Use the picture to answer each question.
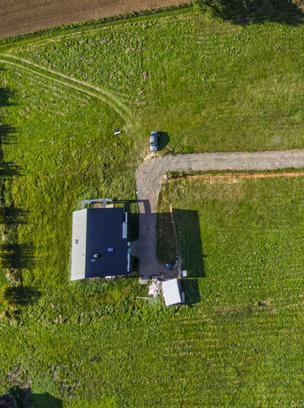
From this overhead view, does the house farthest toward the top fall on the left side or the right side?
left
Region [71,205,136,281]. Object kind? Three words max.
house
